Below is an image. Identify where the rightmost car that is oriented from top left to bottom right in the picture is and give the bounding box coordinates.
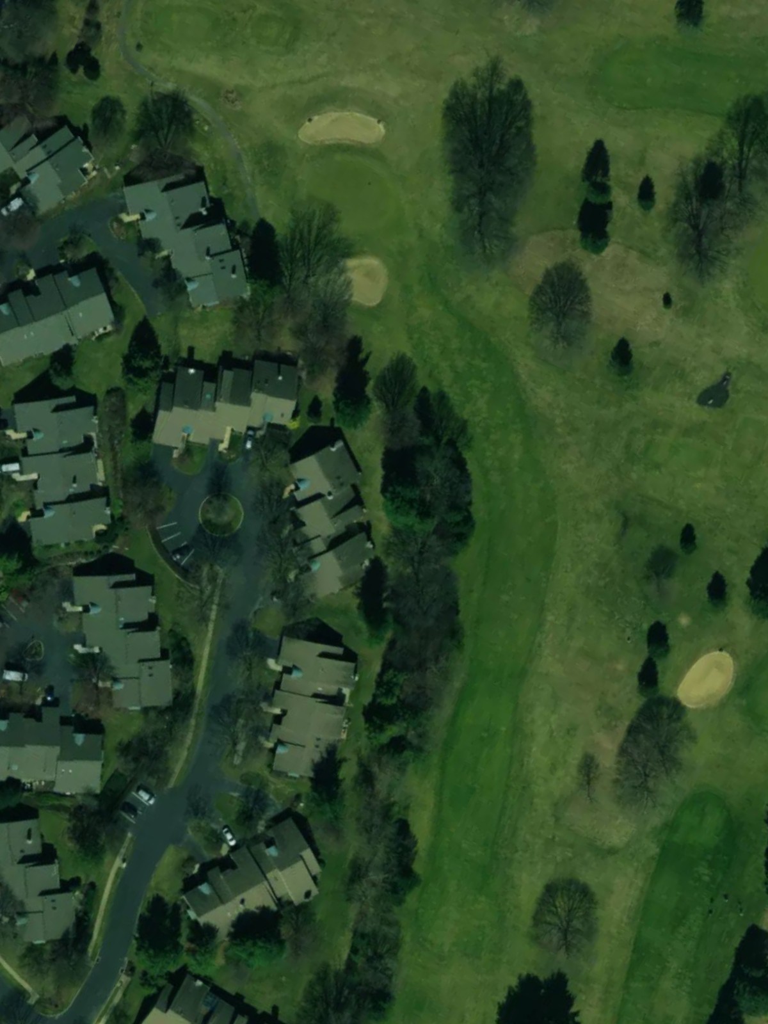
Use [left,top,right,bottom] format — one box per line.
[221,825,238,847]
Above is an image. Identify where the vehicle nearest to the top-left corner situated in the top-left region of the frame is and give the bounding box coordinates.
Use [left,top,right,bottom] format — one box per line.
[1,196,22,215]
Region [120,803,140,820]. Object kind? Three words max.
car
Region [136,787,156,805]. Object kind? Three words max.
car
